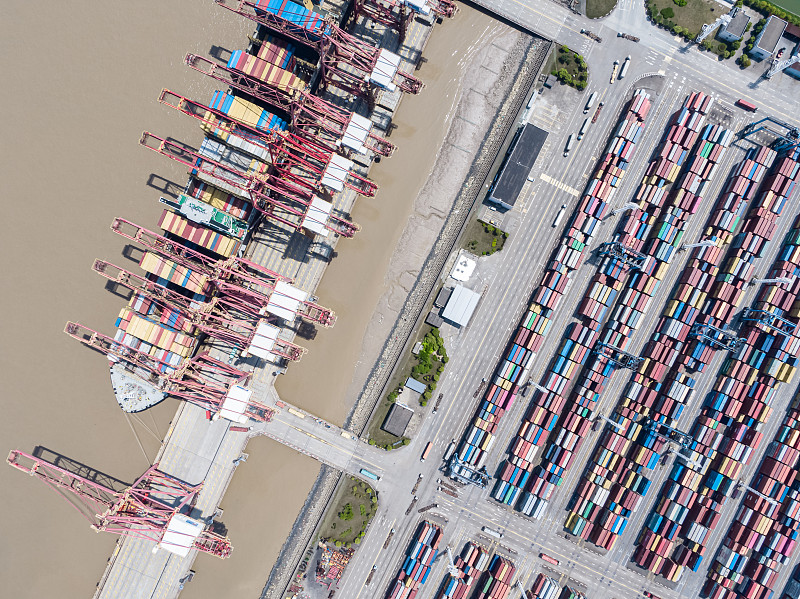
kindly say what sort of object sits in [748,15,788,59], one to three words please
building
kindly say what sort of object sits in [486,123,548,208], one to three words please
building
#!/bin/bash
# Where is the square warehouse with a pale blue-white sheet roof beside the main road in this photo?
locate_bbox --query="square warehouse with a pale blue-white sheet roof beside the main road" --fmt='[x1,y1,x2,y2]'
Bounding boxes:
[442,285,480,326]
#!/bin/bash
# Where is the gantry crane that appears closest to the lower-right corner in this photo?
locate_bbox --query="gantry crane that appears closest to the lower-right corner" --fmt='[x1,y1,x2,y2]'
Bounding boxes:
[641,414,696,451]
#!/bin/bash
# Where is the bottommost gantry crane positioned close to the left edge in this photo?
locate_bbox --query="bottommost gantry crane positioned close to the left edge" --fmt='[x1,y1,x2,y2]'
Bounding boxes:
[4,447,234,564]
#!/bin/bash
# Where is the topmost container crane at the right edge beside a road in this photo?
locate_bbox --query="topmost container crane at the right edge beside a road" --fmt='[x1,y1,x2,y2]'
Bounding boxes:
[741,114,800,152]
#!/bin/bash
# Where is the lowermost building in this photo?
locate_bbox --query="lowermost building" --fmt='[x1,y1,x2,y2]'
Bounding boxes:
[385,401,414,436]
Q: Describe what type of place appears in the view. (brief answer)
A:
port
